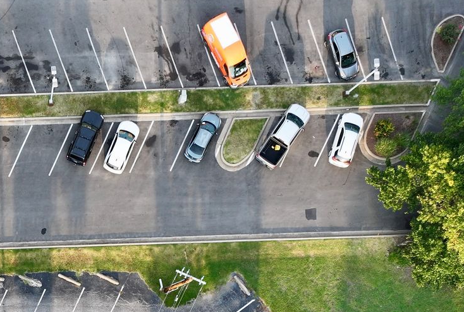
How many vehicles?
7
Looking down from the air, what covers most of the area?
paved ground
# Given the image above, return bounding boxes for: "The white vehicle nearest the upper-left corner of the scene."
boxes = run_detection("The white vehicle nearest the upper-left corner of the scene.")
[104,121,139,173]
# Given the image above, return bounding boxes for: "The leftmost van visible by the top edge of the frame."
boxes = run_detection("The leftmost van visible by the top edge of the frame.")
[199,9,248,88]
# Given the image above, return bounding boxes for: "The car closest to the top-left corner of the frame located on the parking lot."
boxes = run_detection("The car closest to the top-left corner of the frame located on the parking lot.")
[66,109,102,166]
